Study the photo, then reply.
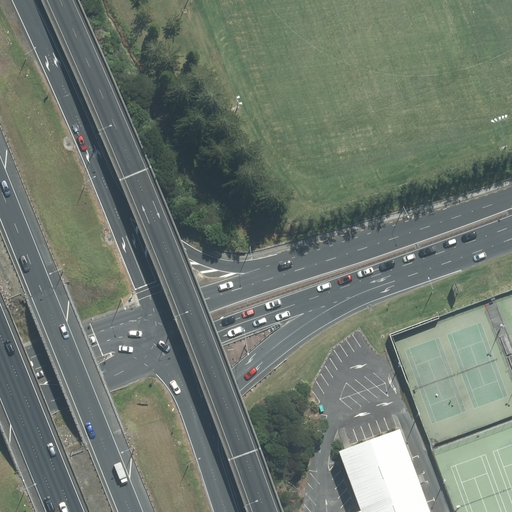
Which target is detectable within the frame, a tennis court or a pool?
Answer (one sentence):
The one in the frame is a tennis court.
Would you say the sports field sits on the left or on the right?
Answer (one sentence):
The sports field sits on the right side.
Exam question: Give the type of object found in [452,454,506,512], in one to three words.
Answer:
tennis court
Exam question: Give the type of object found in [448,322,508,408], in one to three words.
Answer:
tennis court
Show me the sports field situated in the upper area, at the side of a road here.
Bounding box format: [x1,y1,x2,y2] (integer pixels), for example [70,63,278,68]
[198,0,512,220]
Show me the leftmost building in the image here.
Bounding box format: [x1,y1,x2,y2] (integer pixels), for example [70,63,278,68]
[339,430,429,512]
